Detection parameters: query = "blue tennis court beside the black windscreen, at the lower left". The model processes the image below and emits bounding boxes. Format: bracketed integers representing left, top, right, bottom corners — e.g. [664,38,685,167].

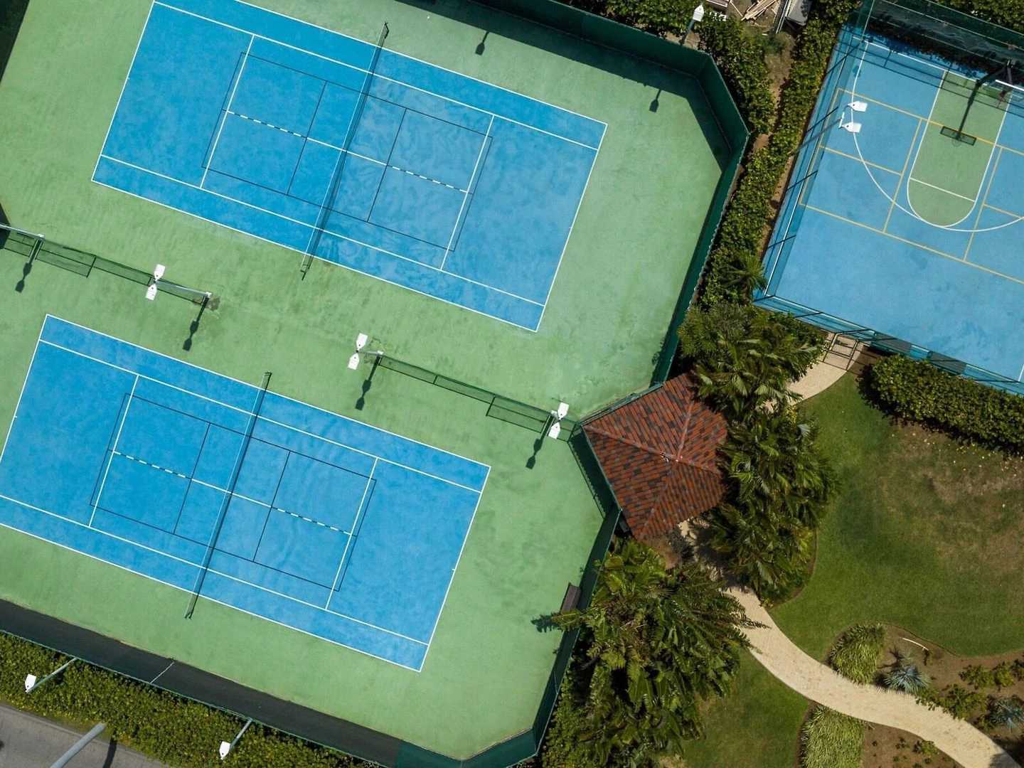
[0,314,490,672]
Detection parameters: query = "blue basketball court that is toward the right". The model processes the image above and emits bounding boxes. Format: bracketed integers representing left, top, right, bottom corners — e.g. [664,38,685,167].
[747,20,1024,400]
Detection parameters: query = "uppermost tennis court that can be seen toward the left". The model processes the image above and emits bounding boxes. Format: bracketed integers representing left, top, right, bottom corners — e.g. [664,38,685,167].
[92,0,607,332]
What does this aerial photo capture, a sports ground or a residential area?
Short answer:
sports ground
